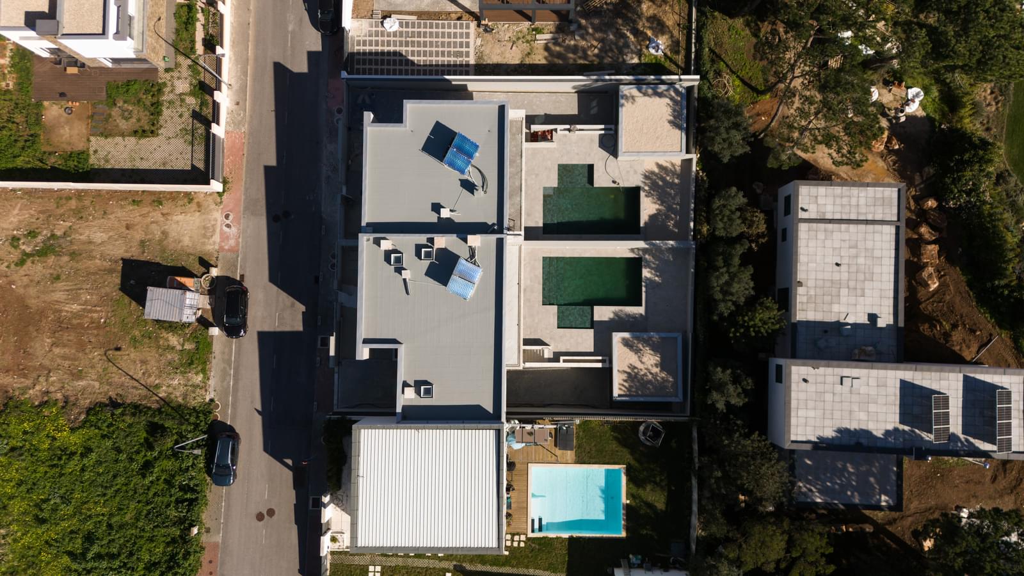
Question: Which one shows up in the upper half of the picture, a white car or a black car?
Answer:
black car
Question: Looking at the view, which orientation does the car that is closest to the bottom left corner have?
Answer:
vertically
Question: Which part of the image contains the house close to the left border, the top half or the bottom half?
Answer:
top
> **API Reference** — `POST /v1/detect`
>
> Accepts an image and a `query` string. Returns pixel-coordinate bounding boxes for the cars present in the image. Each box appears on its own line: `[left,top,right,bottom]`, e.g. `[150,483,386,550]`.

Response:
[220,281,250,338]
[314,0,341,33]
[209,428,242,488]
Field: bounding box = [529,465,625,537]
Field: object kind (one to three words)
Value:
swimming pool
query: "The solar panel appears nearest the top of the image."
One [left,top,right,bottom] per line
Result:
[443,132,480,175]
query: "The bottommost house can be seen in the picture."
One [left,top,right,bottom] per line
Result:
[350,407,507,554]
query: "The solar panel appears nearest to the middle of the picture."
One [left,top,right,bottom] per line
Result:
[446,257,482,300]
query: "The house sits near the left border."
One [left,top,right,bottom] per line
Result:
[0,0,165,68]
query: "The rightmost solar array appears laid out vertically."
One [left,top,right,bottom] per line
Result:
[985,388,1012,454]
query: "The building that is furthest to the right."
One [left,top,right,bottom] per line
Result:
[768,181,1024,510]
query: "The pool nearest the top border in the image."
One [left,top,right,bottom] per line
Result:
[543,164,641,234]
